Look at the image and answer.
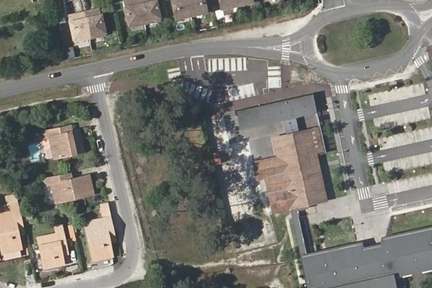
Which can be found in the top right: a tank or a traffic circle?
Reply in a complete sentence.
What appears in the top right is a traffic circle.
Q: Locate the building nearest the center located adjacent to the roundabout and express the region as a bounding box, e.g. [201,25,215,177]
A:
[236,94,328,213]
